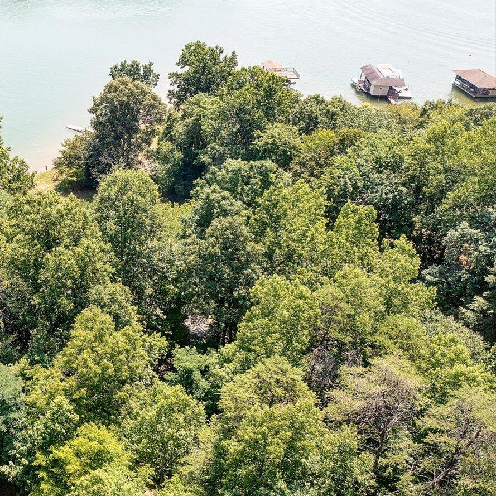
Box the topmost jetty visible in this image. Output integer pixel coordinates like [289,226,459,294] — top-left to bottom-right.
[242,57,301,89]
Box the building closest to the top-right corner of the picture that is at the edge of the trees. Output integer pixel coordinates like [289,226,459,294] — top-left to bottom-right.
[450,65,496,100]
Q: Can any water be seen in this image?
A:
Yes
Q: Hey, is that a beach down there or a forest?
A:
forest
